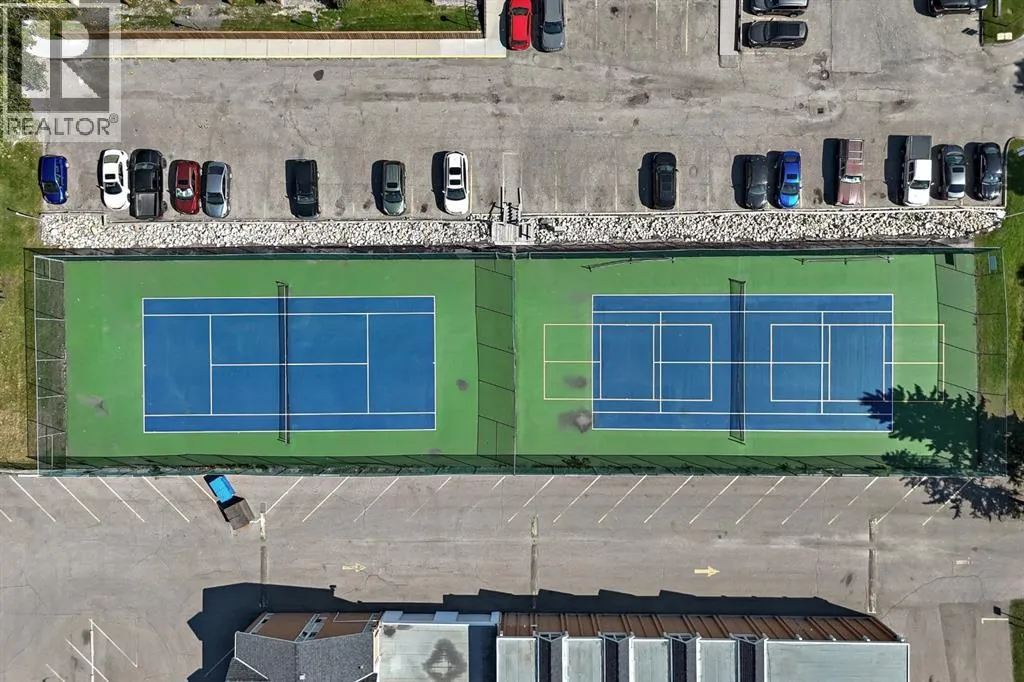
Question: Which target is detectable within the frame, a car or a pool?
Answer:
car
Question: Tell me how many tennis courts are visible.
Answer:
2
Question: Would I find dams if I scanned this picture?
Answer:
No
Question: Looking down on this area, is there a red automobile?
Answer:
Yes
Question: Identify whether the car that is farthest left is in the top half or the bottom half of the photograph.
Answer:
top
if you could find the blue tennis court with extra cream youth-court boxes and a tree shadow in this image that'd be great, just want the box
[514,254,976,467]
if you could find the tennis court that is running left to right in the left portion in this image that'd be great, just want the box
[65,257,514,467]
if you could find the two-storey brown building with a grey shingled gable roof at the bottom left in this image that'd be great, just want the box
[232,611,384,682]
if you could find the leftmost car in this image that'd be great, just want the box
[39,154,70,205]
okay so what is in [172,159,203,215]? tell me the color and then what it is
red car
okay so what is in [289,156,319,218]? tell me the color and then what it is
black van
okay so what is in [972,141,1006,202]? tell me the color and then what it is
black car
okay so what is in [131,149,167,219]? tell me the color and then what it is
black truck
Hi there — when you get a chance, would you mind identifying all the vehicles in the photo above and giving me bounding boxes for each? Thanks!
[289,156,319,218]
[897,133,933,208]
[440,151,469,216]
[39,154,70,205]
[505,0,532,50]
[651,151,680,210]
[172,159,203,215]
[536,0,564,50]
[972,141,1006,202]
[749,0,810,17]
[101,149,133,211]
[775,150,804,209]
[744,154,773,210]
[749,16,809,48]
[131,149,167,219]
[835,135,868,207]
[937,144,969,204]
[203,160,232,218]
[928,0,989,16]
[378,159,405,215]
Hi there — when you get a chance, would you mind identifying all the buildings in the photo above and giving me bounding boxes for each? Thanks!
[496,610,910,682]
[232,611,384,682]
